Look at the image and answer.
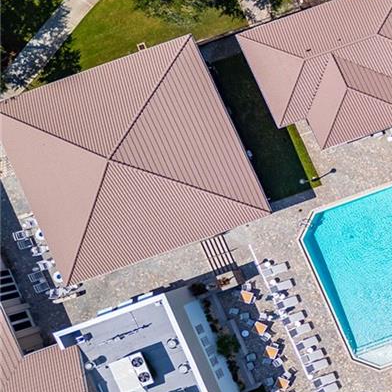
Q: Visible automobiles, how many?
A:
0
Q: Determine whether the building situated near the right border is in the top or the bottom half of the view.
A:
top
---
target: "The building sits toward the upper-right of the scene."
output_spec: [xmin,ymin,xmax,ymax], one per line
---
[236,0,392,149]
